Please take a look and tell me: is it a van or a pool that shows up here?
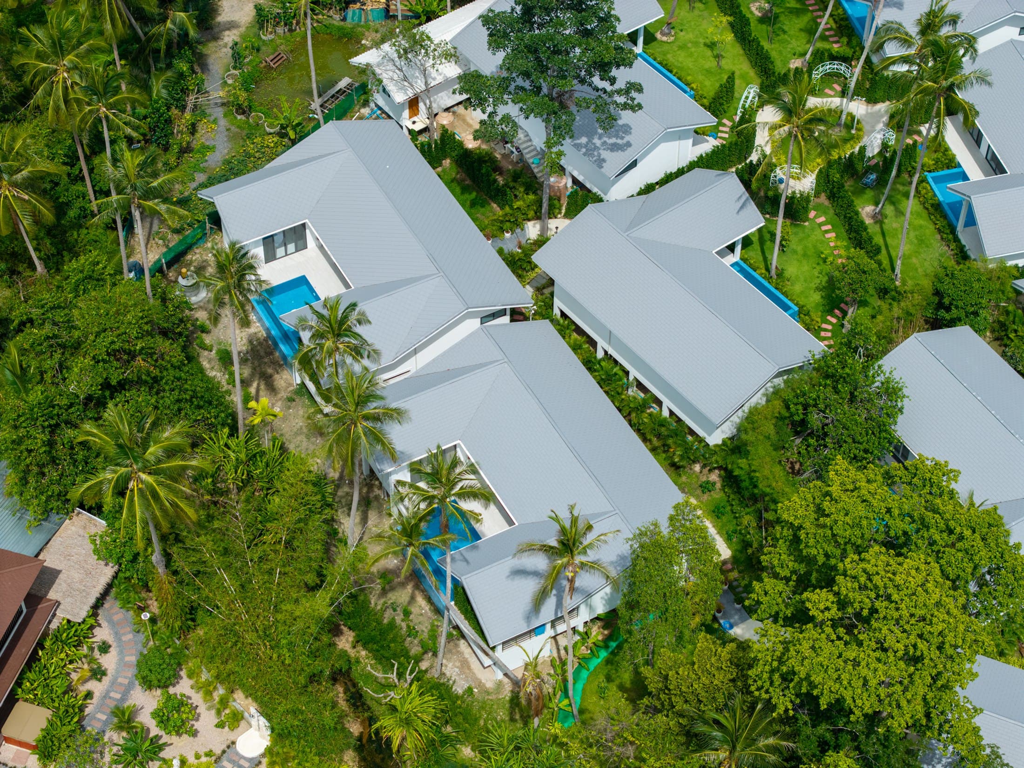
pool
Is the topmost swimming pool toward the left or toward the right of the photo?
right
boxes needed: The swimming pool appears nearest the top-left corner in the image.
[251,273,322,392]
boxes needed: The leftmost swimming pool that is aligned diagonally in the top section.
[637,53,702,106]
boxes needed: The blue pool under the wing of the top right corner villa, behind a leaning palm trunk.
[824,0,878,66]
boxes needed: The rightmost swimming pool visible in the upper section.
[916,166,977,255]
